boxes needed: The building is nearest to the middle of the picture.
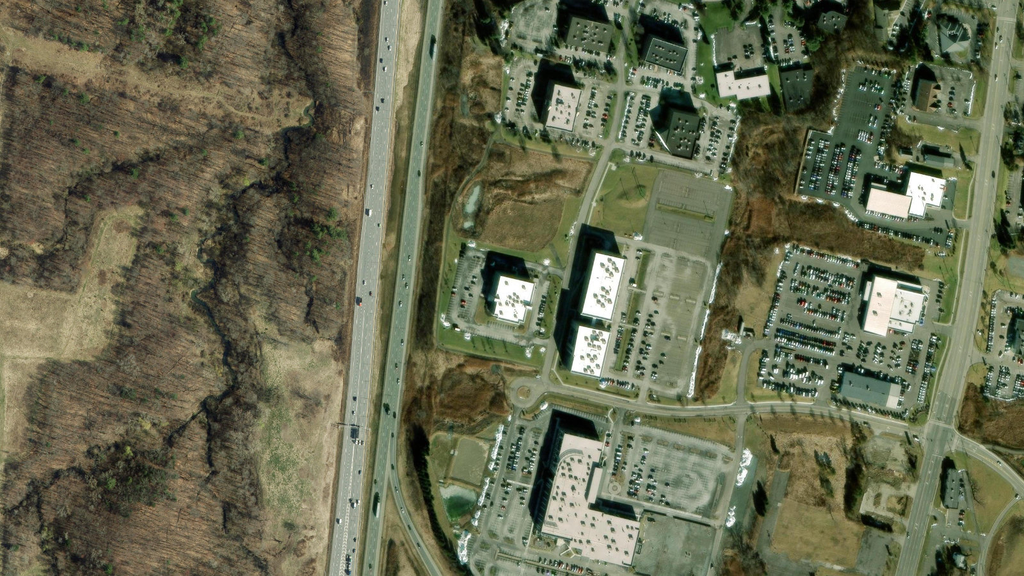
[489,272,535,324]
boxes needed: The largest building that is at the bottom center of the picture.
[537,429,640,566]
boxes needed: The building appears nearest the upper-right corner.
[940,14,970,52]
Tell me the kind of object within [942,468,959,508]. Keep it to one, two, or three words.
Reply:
building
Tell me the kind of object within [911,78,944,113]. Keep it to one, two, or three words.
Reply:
house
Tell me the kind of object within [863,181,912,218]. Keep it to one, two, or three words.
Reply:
building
